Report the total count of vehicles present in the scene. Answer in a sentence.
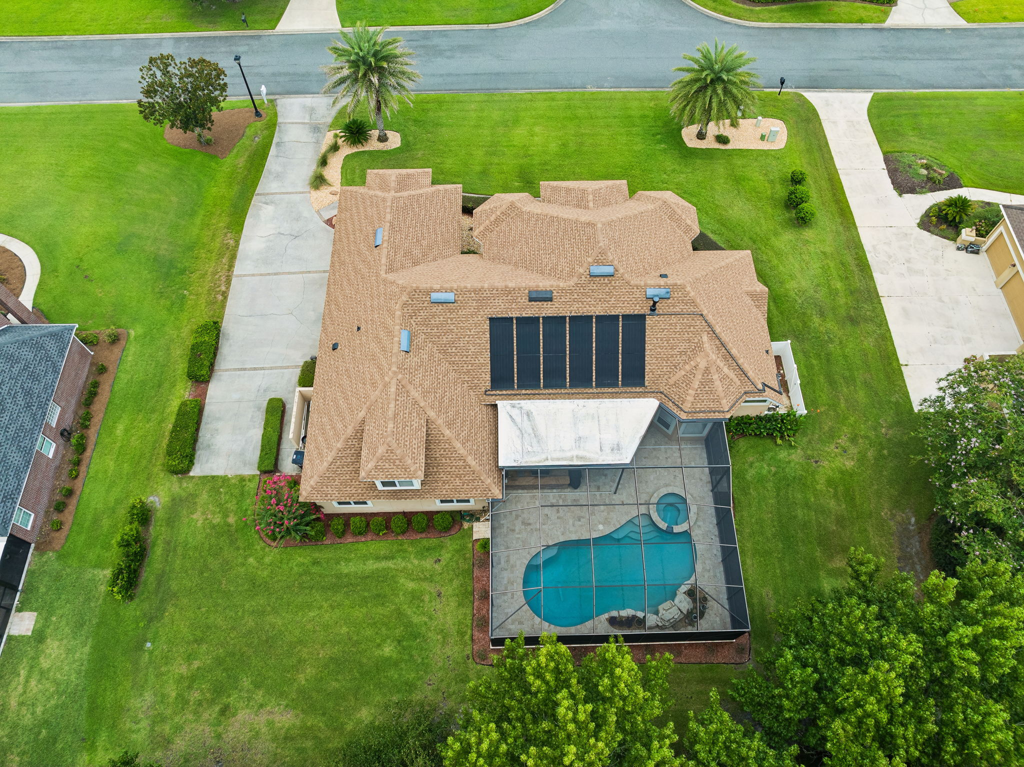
There are no vehicles in this view.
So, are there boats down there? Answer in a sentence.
No, there is no boat in the image.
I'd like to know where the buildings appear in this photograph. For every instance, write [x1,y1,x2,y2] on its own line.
[979,202,1024,395]
[298,169,787,517]
[0,274,96,543]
